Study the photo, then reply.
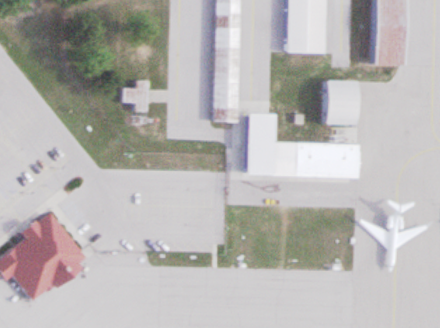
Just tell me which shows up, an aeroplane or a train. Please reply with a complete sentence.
The image shows an aeroplane.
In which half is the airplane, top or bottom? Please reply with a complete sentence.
You can find the airplane in the bottom half.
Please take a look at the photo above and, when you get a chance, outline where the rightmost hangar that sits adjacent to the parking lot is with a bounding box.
[244,114,360,179]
